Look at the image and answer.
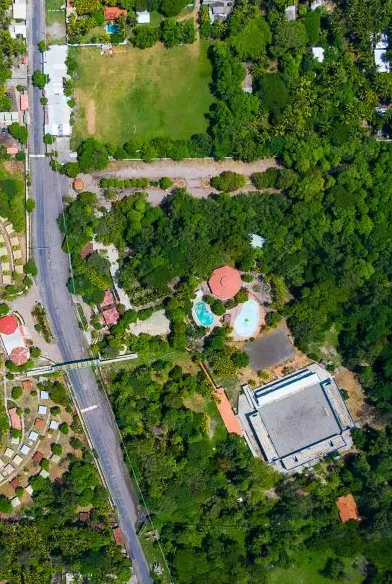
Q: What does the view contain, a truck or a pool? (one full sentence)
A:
It is a pool that can be seen here.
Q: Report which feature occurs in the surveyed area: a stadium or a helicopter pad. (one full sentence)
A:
It is a stadium that can be seen here.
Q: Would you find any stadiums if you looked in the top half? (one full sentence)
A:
No, no stadium is visible in the top half.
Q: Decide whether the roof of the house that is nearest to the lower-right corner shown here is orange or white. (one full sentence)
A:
In this view, the roof of the house that is nearest to the lower-right corner is orange.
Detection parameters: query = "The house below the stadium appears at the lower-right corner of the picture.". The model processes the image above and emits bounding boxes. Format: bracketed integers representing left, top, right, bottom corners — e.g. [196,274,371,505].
[335,493,360,523]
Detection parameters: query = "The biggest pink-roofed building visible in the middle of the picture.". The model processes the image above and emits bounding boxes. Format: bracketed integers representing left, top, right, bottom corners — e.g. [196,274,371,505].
[208,265,242,299]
